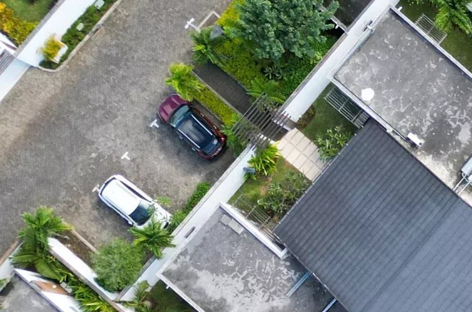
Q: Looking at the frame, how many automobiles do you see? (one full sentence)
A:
In total, there are 2 automobiles in the scene.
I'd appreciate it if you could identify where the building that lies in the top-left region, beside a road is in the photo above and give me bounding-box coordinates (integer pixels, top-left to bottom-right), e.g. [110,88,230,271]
[0,22,55,104]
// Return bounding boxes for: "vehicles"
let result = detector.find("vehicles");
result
[157,93,234,164]
[94,167,177,231]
